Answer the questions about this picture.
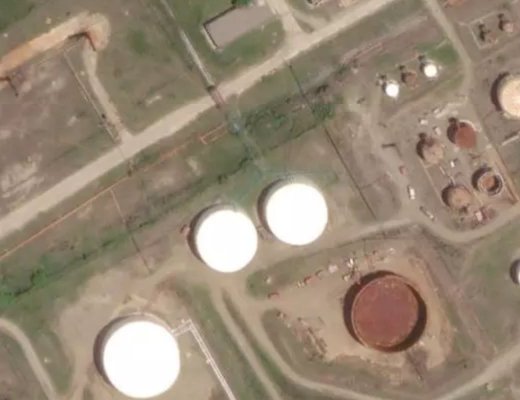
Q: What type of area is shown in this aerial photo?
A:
industrial area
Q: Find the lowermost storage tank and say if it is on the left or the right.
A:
left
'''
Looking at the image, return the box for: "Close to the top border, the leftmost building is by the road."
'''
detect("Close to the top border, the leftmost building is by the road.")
[200,0,275,50]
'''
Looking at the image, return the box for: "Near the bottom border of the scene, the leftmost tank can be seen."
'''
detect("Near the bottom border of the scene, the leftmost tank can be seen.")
[101,313,181,397]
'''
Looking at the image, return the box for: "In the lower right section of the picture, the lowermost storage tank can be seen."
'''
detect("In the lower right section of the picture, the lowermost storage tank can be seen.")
[348,271,427,350]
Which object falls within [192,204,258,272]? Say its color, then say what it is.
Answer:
white storage tank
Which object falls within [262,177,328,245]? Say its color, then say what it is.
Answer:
white storage tank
